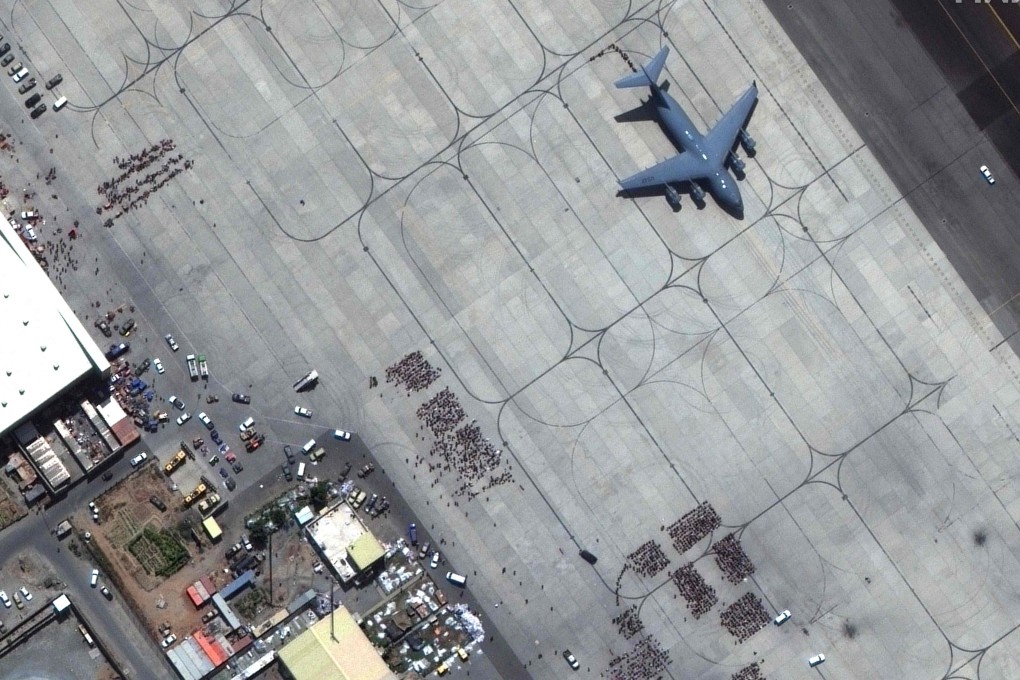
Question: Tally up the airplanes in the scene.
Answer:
one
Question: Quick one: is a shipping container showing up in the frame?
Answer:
Yes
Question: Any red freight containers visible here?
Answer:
Yes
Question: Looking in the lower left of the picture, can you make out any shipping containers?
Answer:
Yes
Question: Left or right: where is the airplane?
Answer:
right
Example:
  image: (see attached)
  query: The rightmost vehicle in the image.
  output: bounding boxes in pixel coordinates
[981,166,994,183]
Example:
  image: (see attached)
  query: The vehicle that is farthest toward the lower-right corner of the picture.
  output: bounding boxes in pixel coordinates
[809,653,826,666]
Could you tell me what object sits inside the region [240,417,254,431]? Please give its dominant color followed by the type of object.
white vehicle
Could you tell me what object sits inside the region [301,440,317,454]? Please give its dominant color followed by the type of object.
white vehicle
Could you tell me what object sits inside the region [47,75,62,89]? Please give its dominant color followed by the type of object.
gray vehicle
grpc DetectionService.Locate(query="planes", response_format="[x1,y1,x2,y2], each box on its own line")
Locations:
[614,45,758,210]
